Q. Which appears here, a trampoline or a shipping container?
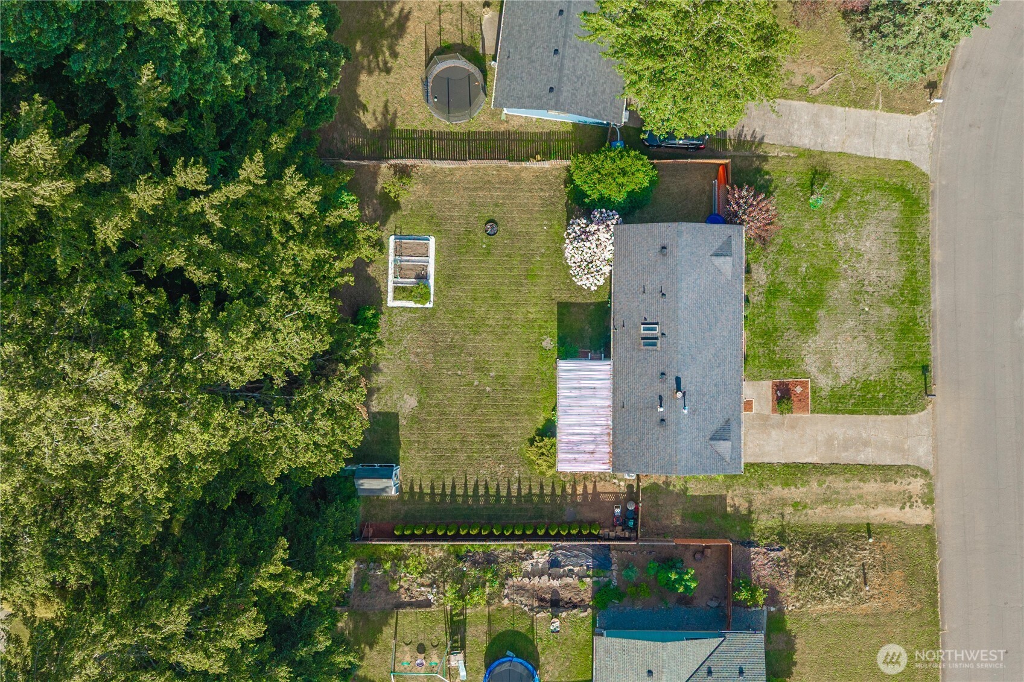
trampoline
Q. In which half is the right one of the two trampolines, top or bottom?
bottom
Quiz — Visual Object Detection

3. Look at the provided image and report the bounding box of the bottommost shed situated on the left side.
[351,461,401,498]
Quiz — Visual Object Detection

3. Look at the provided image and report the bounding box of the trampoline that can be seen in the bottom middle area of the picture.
[482,652,540,682]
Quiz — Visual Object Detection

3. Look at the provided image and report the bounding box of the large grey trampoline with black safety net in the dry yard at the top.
[422,52,486,124]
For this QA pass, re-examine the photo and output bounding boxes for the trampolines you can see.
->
[422,52,486,124]
[482,652,540,682]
